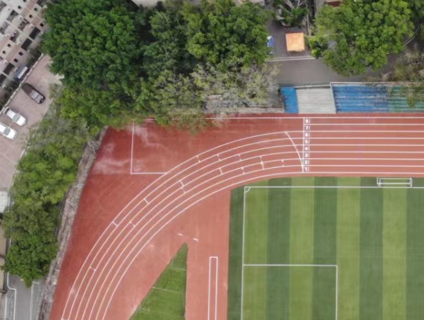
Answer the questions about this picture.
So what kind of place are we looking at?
sports ground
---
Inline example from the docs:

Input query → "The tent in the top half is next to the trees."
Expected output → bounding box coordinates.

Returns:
[286,32,306,55]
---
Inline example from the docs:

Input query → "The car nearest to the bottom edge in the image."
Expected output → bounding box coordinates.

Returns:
[0,121,19,139]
